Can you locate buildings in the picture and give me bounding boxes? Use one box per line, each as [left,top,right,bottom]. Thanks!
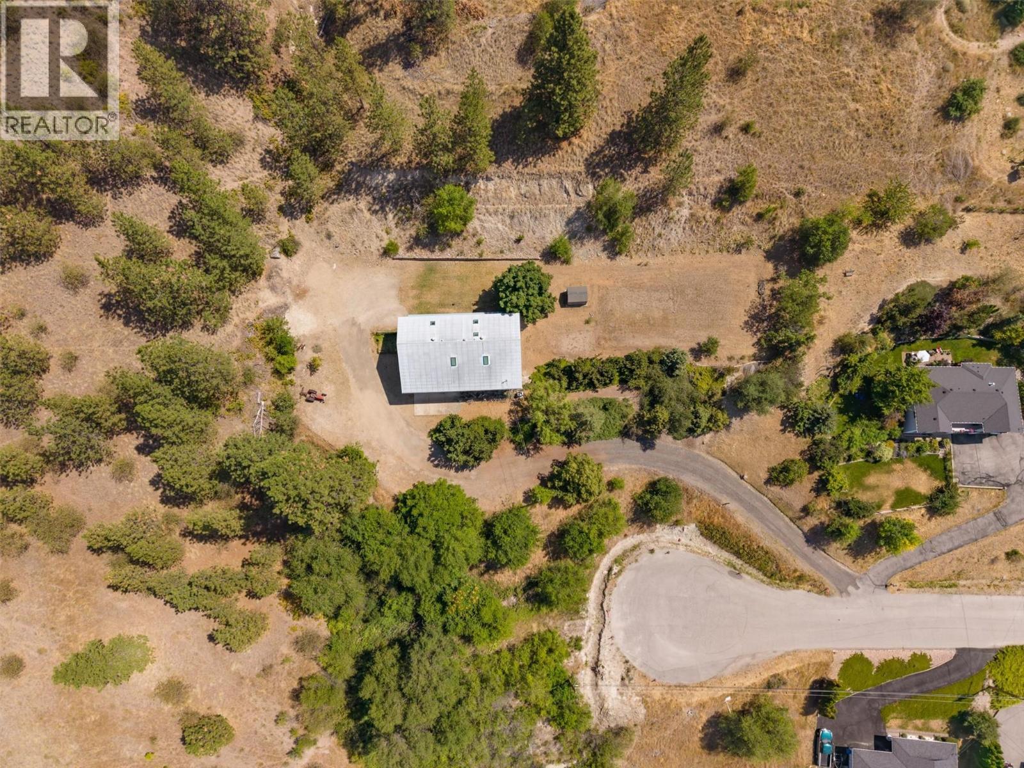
[565,287,588,310]
[906,362,1024,433]
[396,311,522,394]
[845,732,959,768]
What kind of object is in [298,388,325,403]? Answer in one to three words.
work vehicle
